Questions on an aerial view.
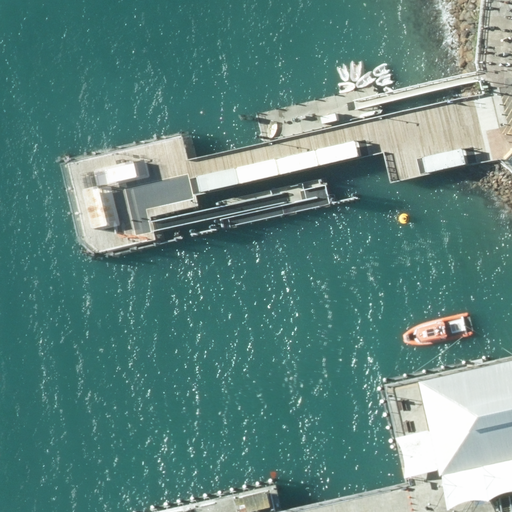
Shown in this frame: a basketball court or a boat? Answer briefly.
boat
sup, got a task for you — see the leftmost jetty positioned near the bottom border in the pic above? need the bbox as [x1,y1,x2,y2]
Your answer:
[140,482,280,512]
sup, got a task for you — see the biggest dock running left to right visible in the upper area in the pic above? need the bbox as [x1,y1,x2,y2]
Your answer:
[56,92,491,259]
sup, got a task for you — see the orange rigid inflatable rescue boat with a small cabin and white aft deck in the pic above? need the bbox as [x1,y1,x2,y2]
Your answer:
[402,313,478,345]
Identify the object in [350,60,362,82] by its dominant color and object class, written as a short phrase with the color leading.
white boat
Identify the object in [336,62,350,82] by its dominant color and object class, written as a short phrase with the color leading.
white boat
